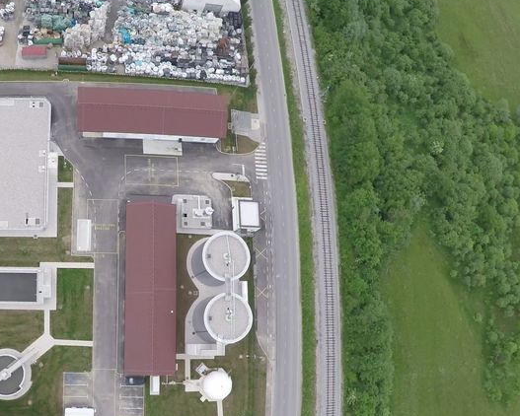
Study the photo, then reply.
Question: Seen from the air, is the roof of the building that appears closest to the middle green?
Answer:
No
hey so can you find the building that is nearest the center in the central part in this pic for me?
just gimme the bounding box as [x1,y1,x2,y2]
[232,198,260,232]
